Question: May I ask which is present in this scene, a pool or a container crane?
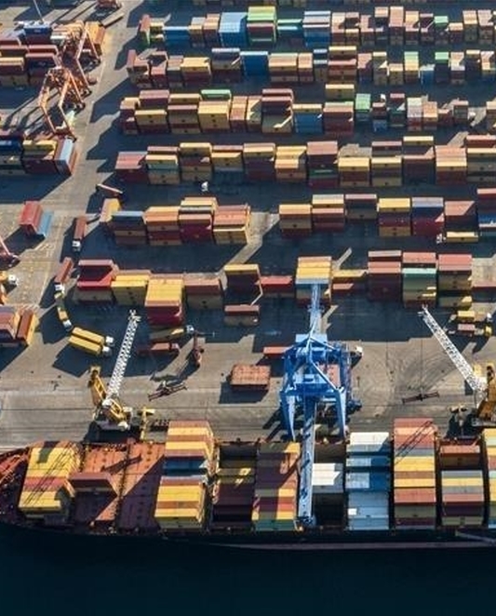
container crane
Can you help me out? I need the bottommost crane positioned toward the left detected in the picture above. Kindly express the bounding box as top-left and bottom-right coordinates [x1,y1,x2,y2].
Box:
[86,310,149,444]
